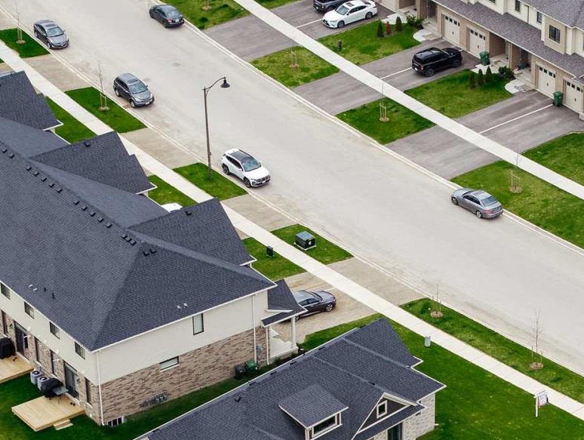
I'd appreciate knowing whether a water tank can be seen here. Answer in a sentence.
No, no water tank is visible in the view.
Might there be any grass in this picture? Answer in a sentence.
Yes, there is grass in the image.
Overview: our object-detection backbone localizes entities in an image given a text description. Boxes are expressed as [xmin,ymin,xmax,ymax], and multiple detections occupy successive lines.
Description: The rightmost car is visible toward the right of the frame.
[448,186,506,219]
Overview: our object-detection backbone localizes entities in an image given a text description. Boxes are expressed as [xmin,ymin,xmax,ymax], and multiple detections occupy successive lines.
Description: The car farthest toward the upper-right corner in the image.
[411,46,465,77]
